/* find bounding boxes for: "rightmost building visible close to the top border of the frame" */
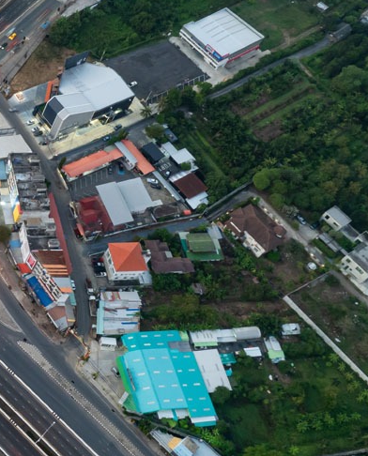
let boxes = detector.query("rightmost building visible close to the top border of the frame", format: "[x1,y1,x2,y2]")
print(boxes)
[175,8,264,75]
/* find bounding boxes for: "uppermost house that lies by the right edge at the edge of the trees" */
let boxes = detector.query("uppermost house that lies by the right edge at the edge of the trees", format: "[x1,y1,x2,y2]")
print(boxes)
[315,205,360,247]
